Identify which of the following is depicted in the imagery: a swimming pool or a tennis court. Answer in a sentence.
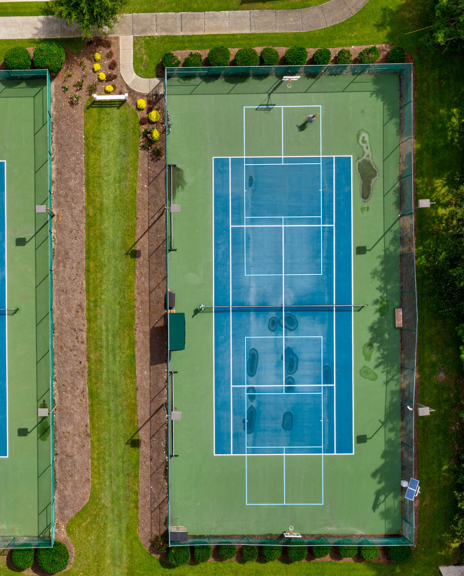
Of the two, only a tennis court appears.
